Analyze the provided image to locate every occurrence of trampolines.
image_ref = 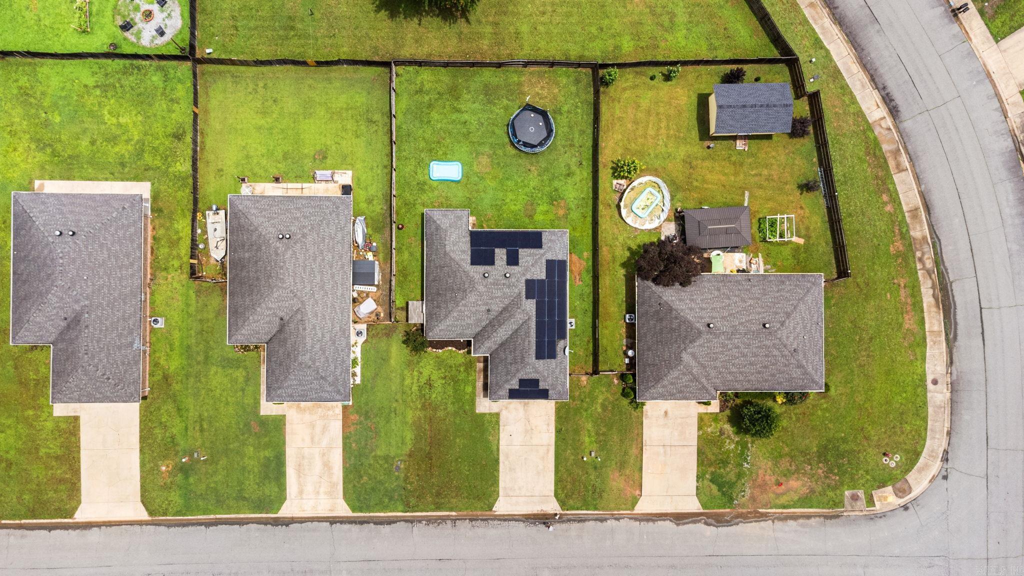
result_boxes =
[509,105,554,154]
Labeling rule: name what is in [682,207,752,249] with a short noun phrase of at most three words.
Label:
gazebo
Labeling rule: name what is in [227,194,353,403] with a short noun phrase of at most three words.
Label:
house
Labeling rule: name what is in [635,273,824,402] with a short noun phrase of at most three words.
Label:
house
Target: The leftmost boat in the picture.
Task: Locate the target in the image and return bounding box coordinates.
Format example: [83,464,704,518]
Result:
[205,204,227,266]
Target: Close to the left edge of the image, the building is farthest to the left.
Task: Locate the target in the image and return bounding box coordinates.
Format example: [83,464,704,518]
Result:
[10,192,155,404]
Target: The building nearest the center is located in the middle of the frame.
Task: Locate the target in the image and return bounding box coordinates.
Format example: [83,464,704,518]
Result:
[424,209,569,402]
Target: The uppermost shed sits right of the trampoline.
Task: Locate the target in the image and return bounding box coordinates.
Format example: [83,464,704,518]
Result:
[710,83,795,136]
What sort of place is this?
residential area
